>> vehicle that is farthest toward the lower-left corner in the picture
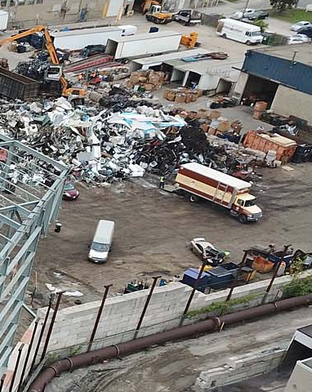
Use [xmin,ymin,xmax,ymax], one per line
[88,221,114,259]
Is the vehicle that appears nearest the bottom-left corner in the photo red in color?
No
